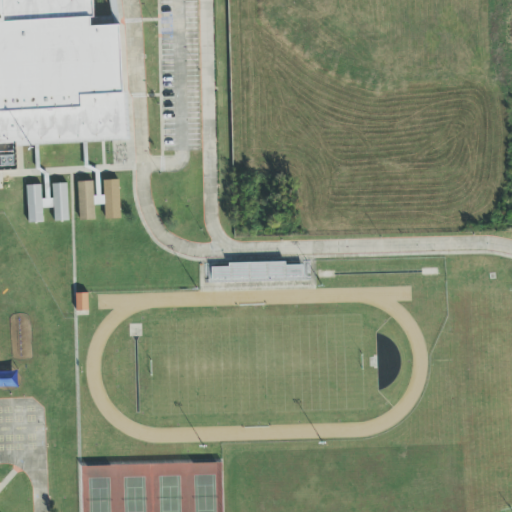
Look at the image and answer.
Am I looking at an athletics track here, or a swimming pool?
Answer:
athletics track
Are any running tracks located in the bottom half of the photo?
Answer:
Yes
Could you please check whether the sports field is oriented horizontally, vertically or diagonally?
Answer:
horizontally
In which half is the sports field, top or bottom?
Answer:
bottom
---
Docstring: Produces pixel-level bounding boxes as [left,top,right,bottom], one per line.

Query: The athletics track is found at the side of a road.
[86,286,428,443]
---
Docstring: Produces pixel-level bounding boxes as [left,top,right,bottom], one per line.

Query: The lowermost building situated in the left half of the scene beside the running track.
[76,292,89,316]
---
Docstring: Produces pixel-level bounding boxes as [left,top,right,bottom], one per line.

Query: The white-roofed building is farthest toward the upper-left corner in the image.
[0,0,126,147]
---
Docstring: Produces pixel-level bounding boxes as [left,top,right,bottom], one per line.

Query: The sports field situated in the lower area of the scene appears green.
[150,314,364,416]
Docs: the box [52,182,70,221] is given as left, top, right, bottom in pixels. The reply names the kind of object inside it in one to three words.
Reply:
building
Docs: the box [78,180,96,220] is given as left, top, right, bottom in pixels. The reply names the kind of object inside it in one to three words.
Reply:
building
